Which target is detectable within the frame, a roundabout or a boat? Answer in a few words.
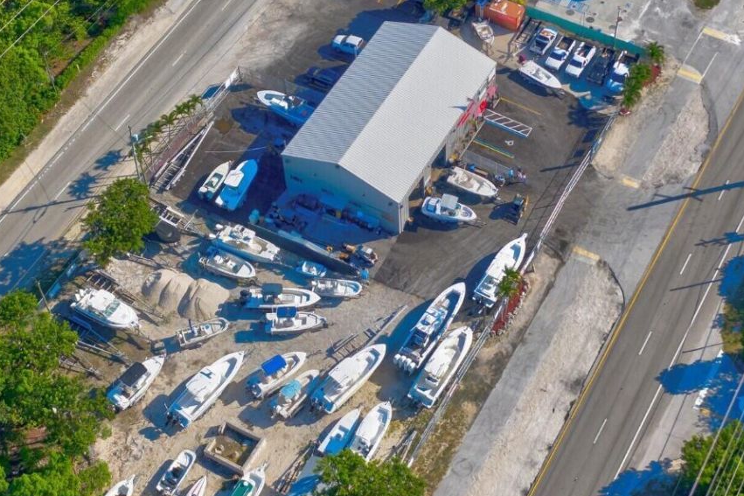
boat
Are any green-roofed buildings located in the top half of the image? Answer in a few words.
No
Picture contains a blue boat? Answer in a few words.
Yes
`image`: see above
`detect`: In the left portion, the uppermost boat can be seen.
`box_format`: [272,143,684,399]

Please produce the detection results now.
[256,94,310,131]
